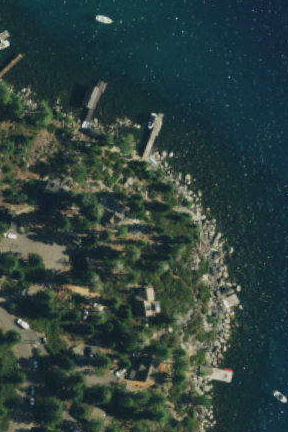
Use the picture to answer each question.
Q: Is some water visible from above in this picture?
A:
Yes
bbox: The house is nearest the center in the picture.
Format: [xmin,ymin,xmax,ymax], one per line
[96,194,130,227]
